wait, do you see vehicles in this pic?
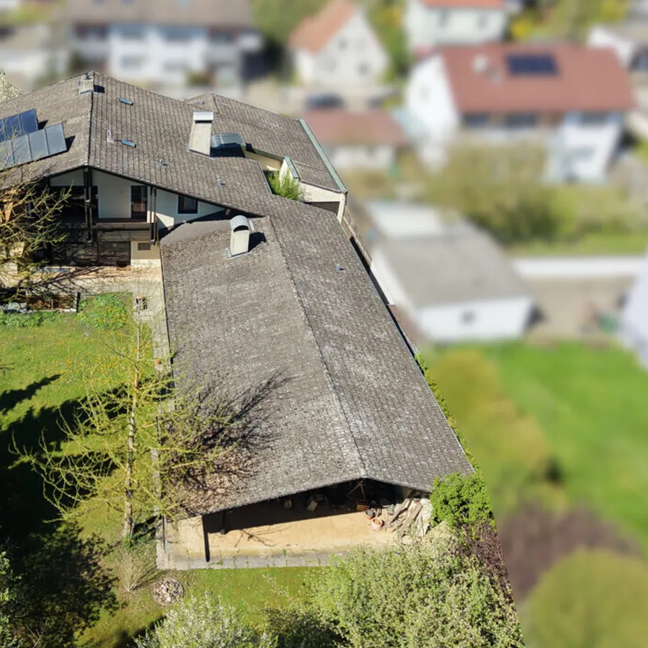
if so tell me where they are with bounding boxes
[297,86,354,109]
[351,84,408,109]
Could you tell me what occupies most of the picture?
buildings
